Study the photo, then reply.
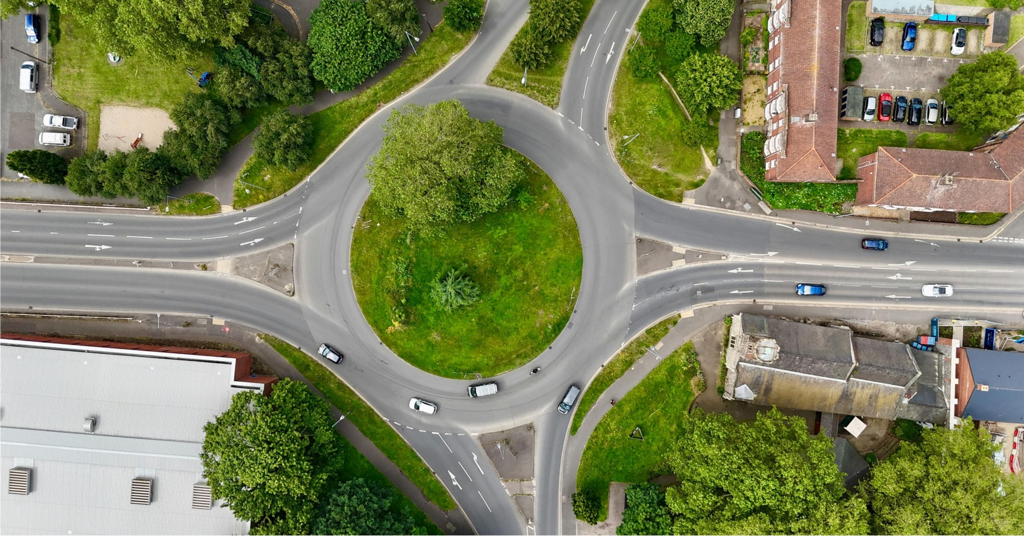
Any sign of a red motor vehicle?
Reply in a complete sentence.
Yes, looking at the shot, I can spot a red motor vehicle.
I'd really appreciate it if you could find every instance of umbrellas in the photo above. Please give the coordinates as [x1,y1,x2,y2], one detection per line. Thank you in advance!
[842,414,867,439]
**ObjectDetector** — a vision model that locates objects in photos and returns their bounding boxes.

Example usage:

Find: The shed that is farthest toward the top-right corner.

[983,11,1011,47]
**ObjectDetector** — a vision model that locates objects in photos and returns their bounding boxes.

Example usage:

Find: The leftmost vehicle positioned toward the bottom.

[316,342,345,365]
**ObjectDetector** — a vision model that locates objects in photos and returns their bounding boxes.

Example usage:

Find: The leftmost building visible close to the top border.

[761,0,842,184]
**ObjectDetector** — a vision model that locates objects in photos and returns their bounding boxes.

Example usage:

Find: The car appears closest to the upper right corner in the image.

[948,27,967,56]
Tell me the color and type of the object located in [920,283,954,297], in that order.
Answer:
white car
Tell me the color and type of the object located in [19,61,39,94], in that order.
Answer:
white vehicle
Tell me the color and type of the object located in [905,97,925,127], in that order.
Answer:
black car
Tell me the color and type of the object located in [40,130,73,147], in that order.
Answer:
white vehicle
